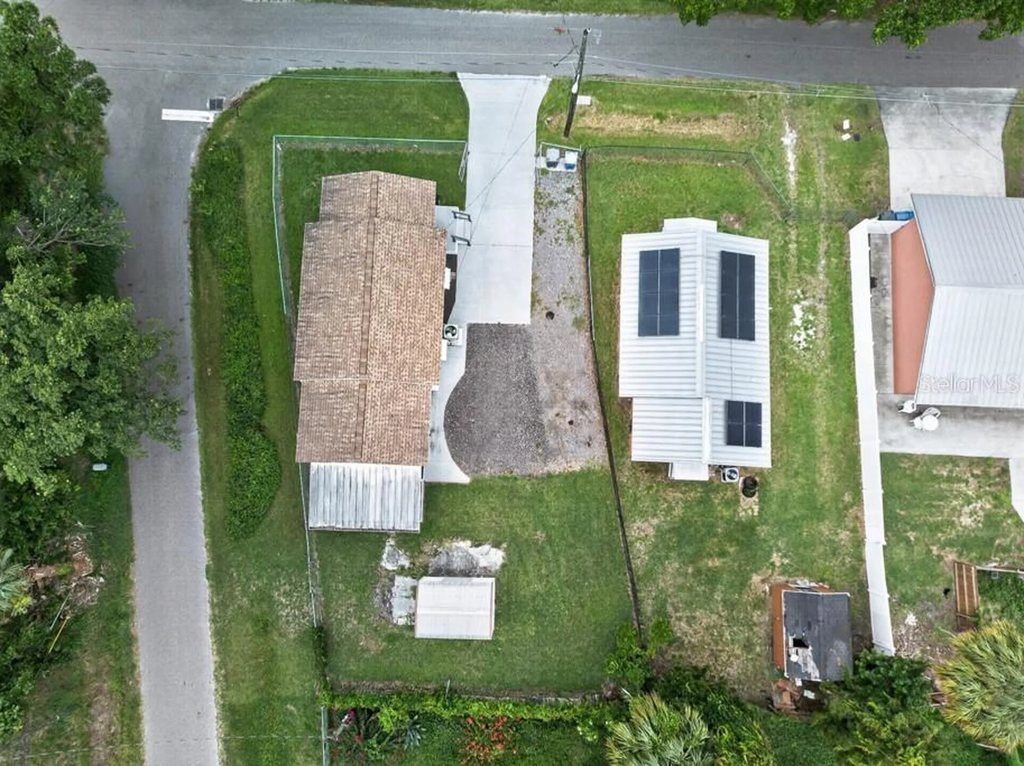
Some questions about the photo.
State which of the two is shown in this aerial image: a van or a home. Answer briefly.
home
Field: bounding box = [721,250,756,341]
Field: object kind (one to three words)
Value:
solar array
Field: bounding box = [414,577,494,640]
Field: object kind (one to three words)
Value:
shed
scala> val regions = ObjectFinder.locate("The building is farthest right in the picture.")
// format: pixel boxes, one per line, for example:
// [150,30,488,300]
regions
[893,193,1024,410]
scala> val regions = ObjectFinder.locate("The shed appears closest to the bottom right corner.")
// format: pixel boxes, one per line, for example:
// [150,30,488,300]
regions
[773,585,853,682]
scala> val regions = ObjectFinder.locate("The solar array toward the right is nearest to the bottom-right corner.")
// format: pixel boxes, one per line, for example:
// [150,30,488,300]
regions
[728,401,763,448]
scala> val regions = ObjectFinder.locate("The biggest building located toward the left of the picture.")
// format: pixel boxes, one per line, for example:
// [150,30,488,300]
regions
[293,170,452,534]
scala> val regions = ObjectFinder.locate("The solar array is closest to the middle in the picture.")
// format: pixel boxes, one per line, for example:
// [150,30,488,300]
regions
[638,247,679,336]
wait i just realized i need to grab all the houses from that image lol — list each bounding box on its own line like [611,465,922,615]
[293,170,452,534]
[893,193,1024,410]
[616,216,772,481]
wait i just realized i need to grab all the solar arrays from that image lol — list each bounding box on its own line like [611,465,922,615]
[728,401,763,448]
[638,247,679,336]
[721,250,756,341]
